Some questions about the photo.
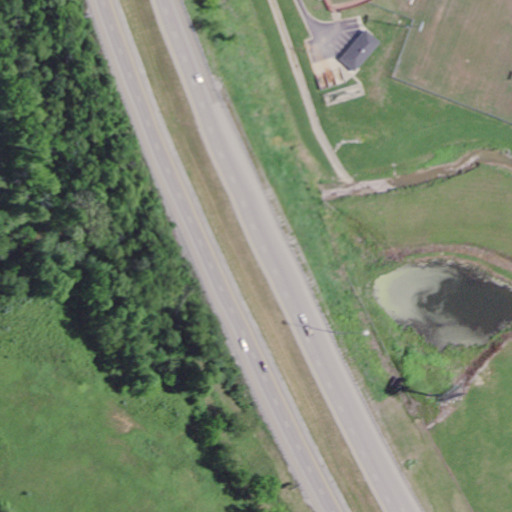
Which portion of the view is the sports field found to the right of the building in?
top right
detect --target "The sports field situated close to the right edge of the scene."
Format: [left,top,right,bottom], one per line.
[396,0,512,121]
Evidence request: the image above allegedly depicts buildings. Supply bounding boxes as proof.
[340,30,380,70]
